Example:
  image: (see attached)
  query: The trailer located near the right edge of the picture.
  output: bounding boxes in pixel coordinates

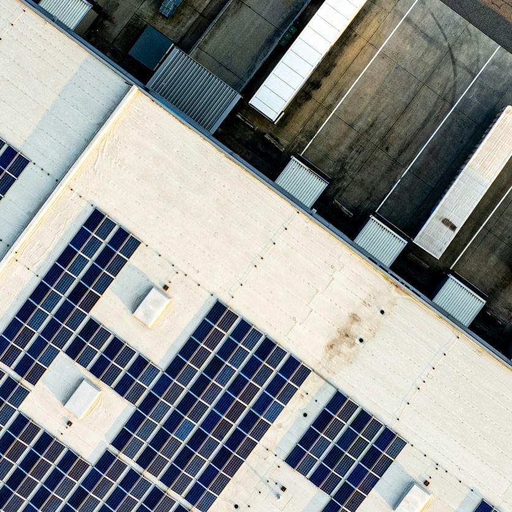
[411,106,512,260]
